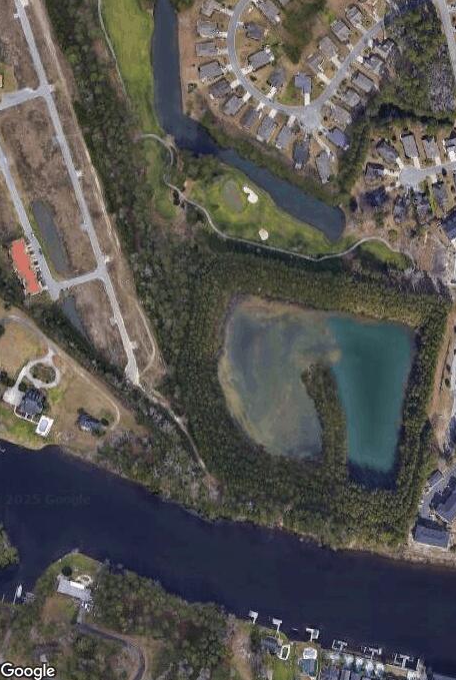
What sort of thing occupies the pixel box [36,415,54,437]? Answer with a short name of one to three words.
swimming pool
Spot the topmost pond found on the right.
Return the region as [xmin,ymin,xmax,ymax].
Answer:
[219,296,413,490]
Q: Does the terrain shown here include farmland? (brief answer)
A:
No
